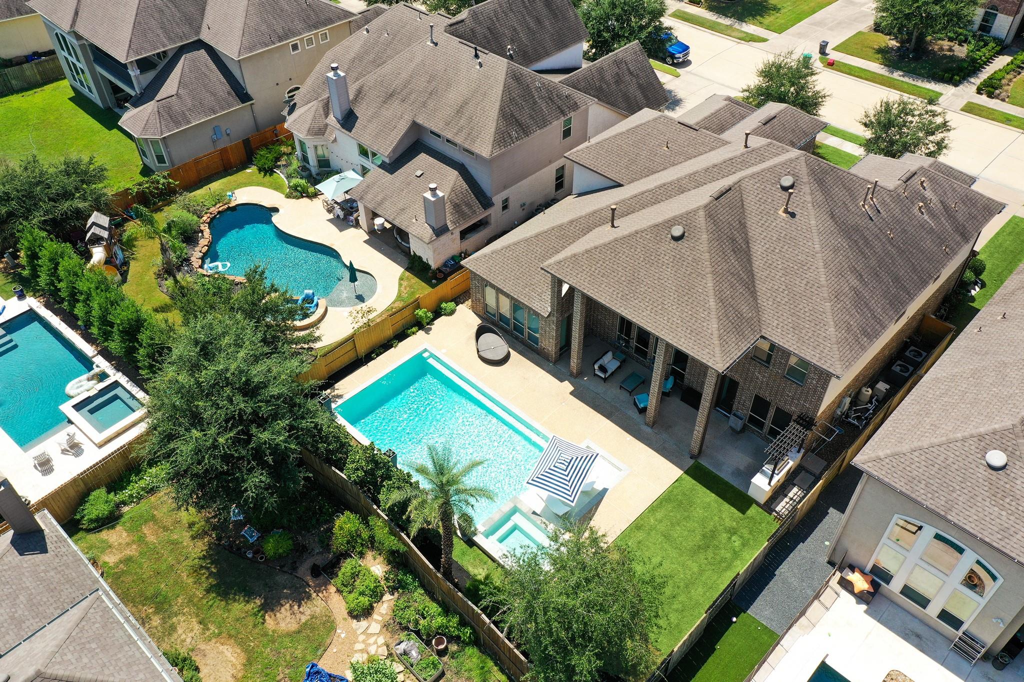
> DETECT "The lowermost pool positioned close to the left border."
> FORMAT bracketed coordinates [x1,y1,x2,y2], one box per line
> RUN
[0,294,165,453]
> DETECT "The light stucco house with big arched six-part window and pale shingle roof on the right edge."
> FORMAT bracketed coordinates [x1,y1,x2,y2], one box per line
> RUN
[824,261,1024,659]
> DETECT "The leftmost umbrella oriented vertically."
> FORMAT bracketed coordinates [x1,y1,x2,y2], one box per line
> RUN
[346,254,358,293]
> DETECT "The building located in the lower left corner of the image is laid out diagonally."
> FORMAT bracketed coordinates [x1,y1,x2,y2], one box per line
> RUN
[0,466,177,682]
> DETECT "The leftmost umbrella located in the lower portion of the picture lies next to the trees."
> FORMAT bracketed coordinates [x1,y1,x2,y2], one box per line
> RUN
[527,436,598,506]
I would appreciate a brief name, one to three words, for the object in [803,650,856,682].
swimming pool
